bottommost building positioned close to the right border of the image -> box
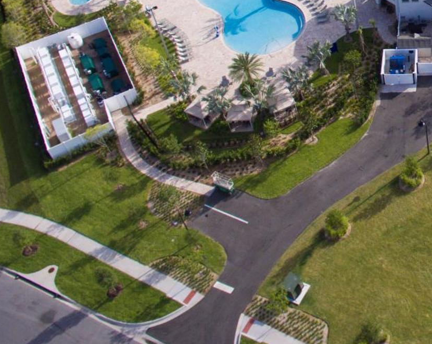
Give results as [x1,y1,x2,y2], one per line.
[379,49,419,84]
